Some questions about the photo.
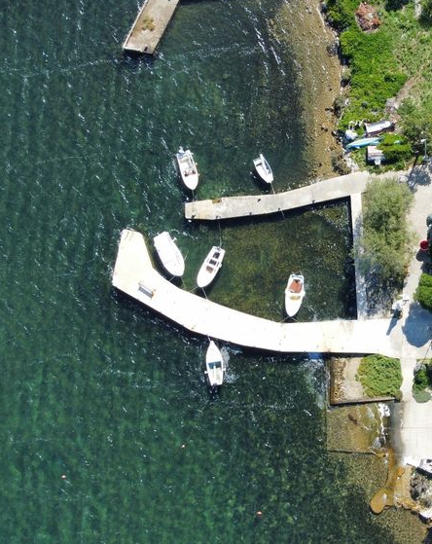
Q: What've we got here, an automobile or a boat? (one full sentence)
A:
I can see a boat in this picture.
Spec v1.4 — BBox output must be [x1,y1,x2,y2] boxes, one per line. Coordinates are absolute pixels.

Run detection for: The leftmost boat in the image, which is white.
[154,231,185,289]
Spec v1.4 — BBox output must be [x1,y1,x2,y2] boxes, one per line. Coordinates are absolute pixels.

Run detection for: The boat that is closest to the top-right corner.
[365,119,393,134]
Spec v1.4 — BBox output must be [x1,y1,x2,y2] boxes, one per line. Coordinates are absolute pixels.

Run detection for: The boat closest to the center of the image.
[189,233,226,300]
